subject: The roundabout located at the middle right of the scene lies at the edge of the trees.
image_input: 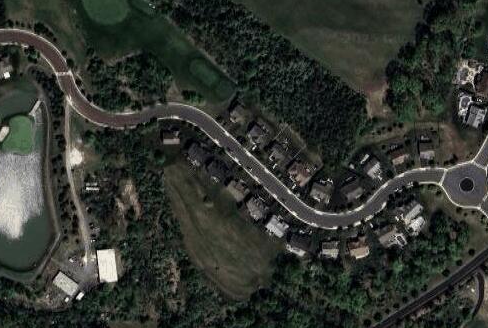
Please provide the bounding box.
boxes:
[443,161,488,208]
